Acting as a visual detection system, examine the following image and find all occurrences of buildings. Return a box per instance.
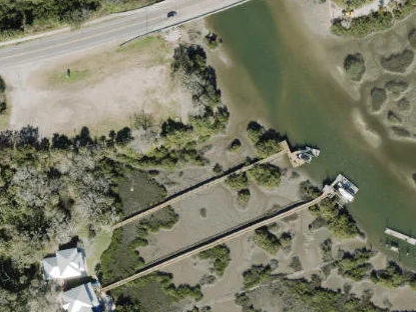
[62,283,99,312]
[41,250,84,281]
